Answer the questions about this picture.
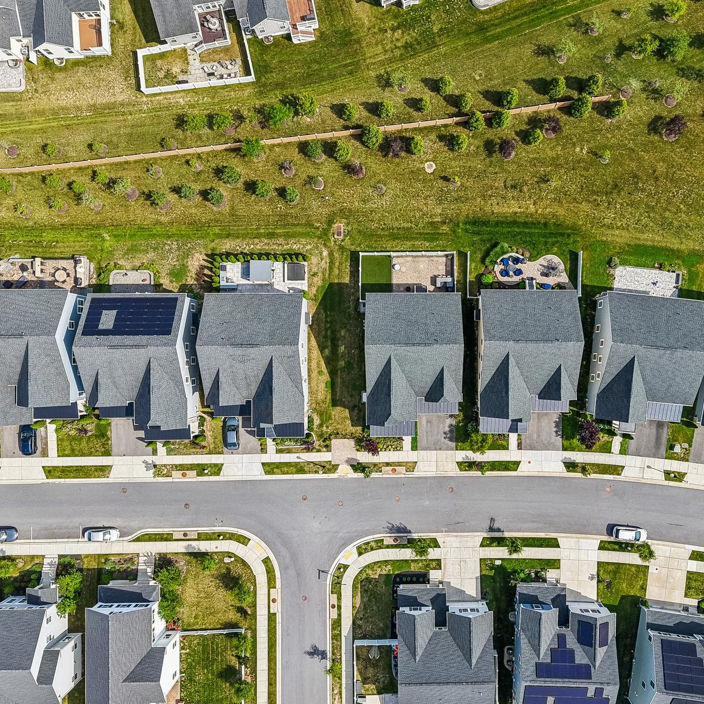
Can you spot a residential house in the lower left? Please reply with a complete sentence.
Yes, in the lower left there is a residential house.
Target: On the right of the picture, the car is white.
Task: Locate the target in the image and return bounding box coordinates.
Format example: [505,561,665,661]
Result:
[614,526,650,544]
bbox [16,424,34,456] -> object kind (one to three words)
car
